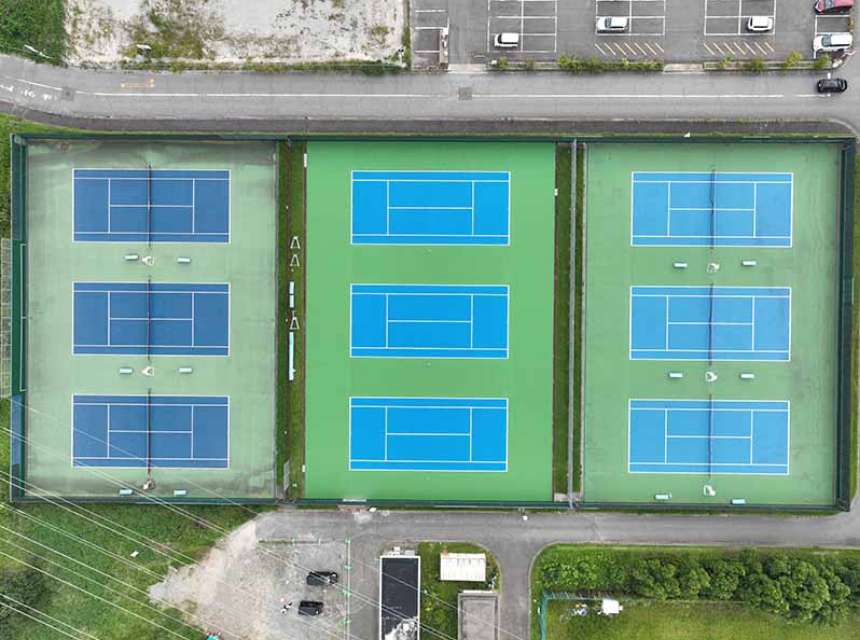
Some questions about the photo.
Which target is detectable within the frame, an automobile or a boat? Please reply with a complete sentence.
Of the two, only an automobile appears.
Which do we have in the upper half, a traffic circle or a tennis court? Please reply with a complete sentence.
The one visible in the upper half is a tennis court.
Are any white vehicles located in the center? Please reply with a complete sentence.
No, I see no white vehicle in the center.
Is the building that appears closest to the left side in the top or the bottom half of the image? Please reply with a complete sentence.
The building that appears closest to the left side is in the bottom half of the image.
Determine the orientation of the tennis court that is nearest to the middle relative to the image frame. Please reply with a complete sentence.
I'd say the tennis court that is nearest to the middle is aligned from left to right in the picture.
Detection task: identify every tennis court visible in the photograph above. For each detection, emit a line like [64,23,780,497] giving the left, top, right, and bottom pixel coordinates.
[349,397,509,472]
[351,170,510,245]
[73,169,230,243]
[630,286,791,361]
[350,284,509,359]
[72,395,229,469]
[629,400,790,475]
[72,282,230,356]
[632,172,793,247]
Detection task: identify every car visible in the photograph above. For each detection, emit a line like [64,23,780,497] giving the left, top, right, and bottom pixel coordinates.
[308,569,338,585]
[495,34,519,50]
[814,34,851,52]
[815,78,847,93]
[747,17,773,33]
[816,0,852,14]
[299,601,323,616]
[596,18,629,34]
